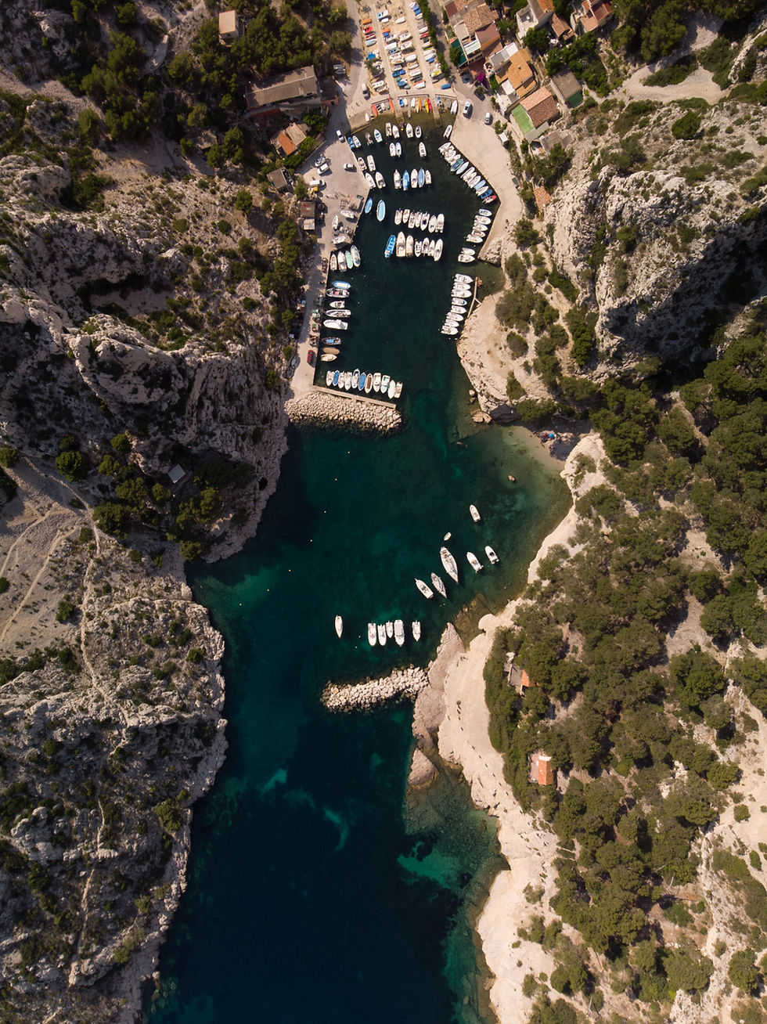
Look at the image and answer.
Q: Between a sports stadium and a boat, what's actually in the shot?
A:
boat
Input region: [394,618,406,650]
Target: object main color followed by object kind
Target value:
white boat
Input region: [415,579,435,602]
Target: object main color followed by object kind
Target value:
white boat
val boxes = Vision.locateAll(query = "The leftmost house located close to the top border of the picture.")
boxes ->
[219,12,239,46]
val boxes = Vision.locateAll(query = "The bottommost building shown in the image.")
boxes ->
[529,751,554,786]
